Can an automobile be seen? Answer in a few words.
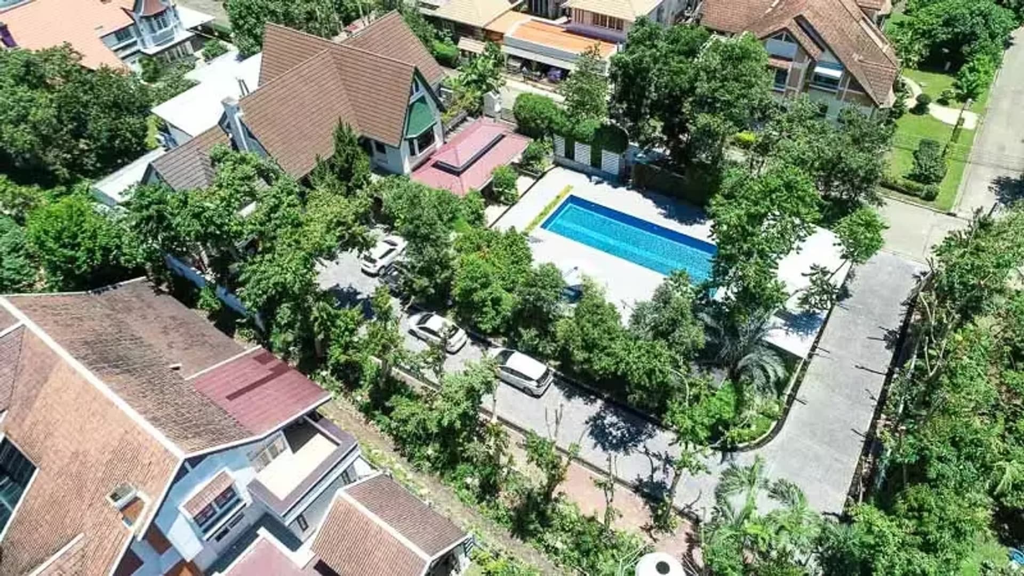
Yes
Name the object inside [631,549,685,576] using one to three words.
water tank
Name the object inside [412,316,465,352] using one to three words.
car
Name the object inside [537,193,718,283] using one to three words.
swimming pool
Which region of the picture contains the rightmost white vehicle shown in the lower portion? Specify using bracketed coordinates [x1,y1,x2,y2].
[495,356,554,394]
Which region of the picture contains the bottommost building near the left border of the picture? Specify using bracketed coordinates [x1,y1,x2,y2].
[0,273,398,576]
